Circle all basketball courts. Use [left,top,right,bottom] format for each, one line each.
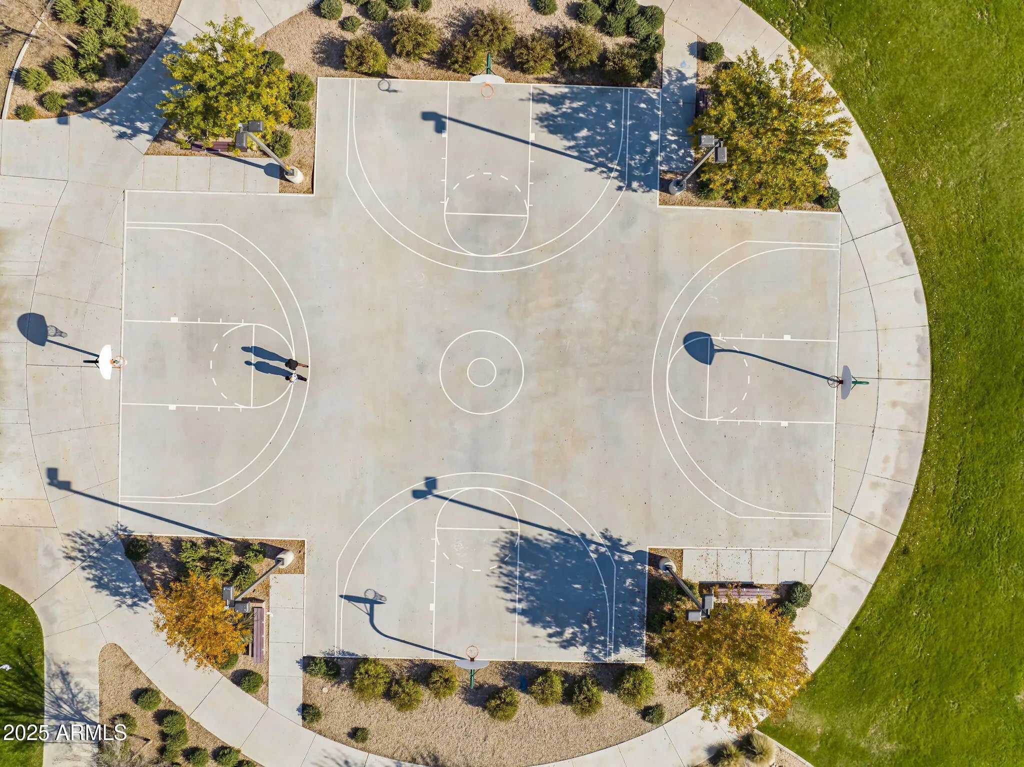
[119,78,841,663]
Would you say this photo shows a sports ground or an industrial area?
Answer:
sports ground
